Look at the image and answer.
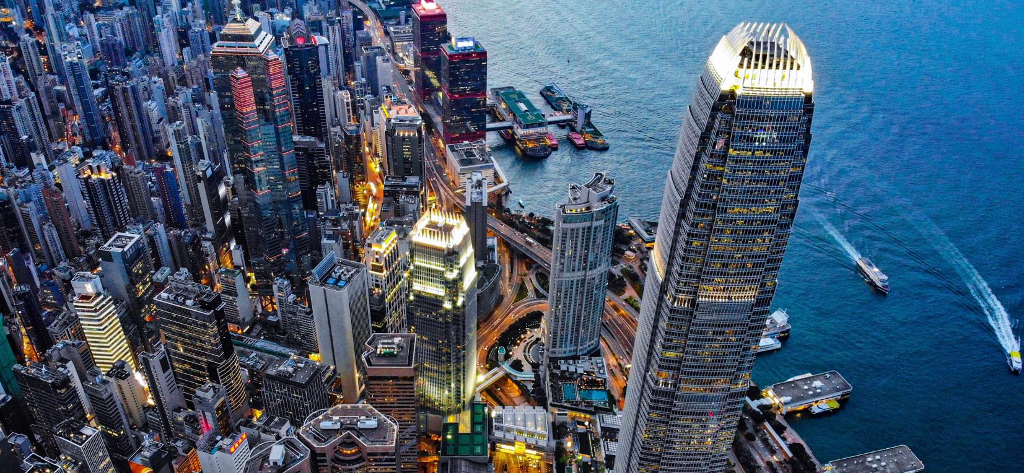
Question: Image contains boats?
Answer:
Yes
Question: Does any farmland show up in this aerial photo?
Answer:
No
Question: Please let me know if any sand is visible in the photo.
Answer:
No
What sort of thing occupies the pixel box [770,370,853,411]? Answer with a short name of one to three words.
pier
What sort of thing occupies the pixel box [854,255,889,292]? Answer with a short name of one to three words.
vessel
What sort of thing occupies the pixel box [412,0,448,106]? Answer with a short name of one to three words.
building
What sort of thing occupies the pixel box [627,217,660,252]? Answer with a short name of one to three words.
building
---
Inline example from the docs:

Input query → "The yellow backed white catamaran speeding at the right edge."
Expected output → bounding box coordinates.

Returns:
[1006,347,1022,374]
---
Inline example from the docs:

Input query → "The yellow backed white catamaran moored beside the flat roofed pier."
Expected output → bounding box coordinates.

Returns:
[807,397,841,414]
